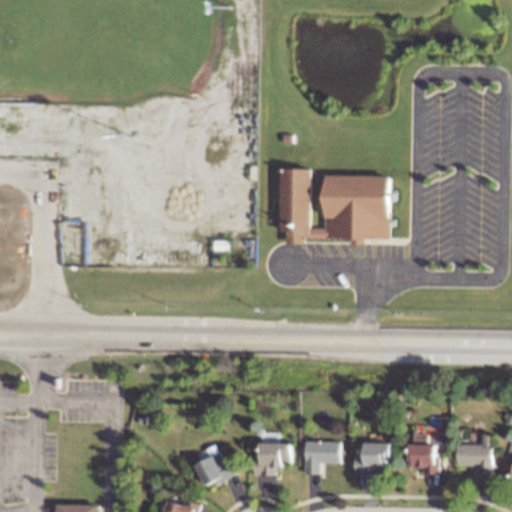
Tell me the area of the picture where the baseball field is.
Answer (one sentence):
The baseball field is located in the top left region of the scene.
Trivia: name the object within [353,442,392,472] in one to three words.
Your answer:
house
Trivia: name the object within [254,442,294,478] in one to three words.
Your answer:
house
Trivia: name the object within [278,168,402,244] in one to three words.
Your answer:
building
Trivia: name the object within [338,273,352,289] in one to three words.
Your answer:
vehicle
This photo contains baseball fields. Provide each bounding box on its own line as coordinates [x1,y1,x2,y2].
[0,0,222,106]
